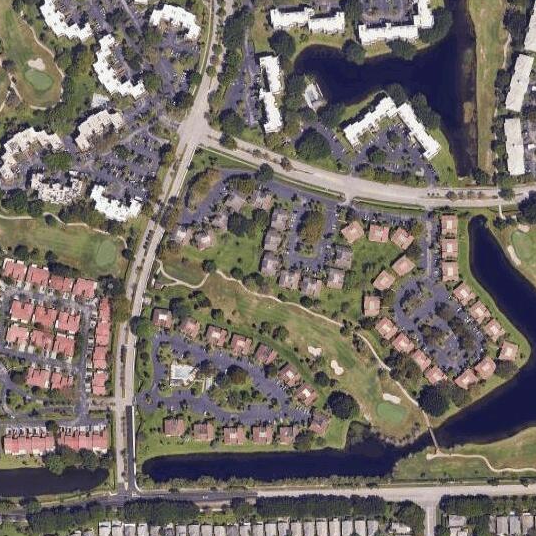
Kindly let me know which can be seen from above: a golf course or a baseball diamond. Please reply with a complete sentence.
The one in the frame is a golf course.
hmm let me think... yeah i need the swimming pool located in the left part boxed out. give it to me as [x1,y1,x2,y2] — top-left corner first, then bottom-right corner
[171,362,198,385]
